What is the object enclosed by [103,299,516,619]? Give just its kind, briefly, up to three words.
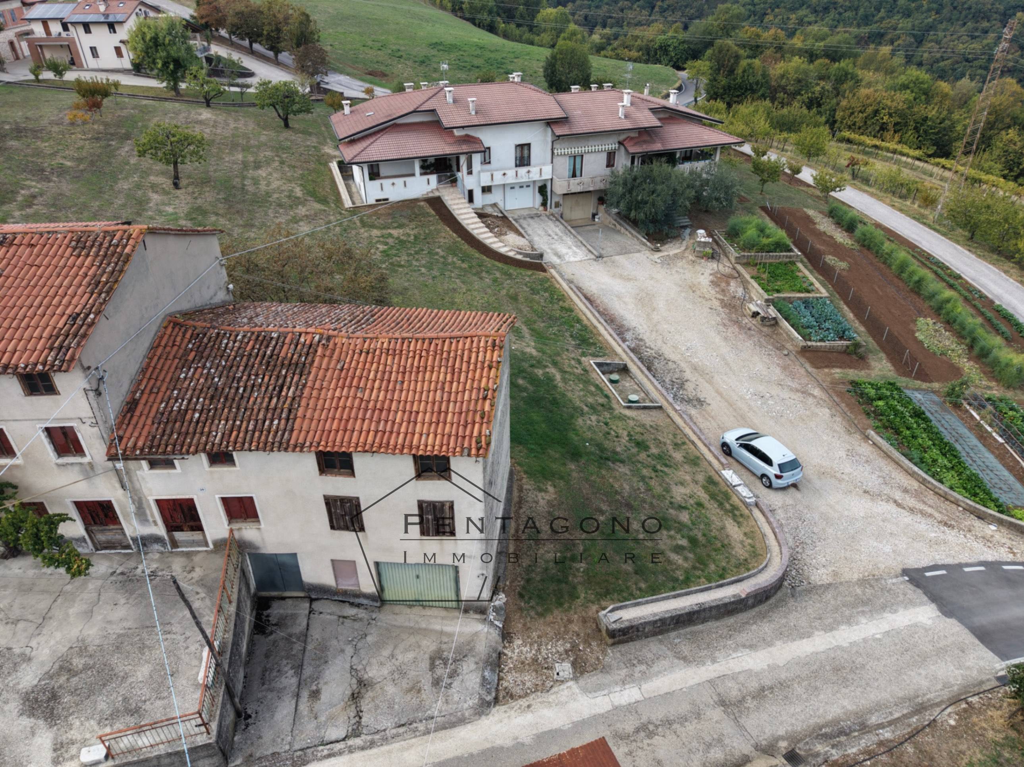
house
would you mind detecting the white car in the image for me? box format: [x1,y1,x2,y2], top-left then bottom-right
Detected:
[722,425,806,491]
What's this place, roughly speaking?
residential area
